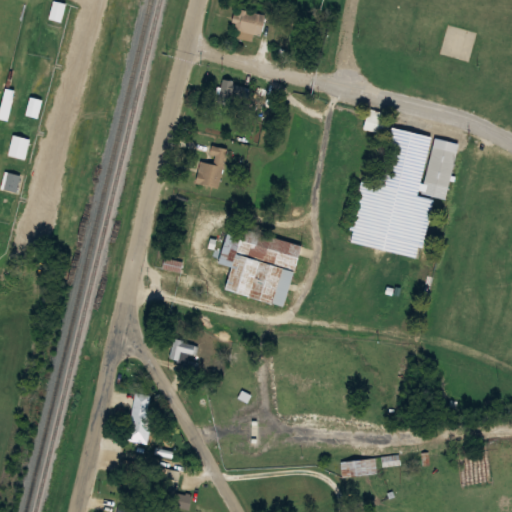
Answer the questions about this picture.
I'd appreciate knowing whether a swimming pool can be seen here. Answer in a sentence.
No, I can see no swimming pool in this picture.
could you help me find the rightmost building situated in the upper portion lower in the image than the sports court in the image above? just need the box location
[420,138,460,200]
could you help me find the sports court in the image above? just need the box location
[440,24,478,62]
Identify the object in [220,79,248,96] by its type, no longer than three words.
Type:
house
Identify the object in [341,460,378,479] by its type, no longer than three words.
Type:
barn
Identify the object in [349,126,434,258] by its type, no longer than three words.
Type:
building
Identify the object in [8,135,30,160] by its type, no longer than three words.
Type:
shed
